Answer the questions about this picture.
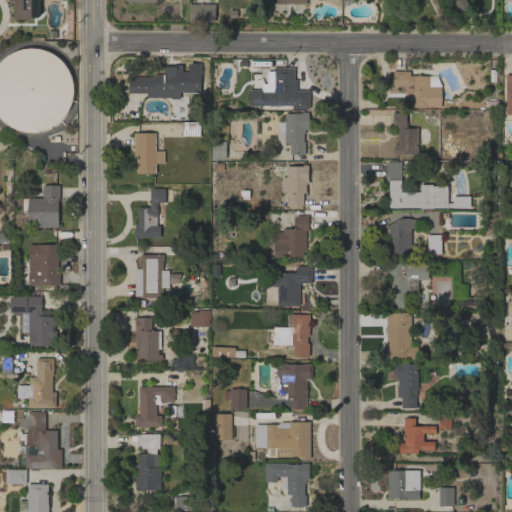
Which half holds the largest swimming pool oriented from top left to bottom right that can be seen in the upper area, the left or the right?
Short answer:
right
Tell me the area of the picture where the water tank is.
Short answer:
top left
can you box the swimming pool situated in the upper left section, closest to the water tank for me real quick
[48,3,63,28]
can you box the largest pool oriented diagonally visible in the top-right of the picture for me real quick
[440,68,460,92]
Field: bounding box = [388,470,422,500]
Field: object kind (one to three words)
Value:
house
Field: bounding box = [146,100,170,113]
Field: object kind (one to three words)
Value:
swimming pool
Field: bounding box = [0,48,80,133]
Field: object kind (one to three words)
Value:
water tank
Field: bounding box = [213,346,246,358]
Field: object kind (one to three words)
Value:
shed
